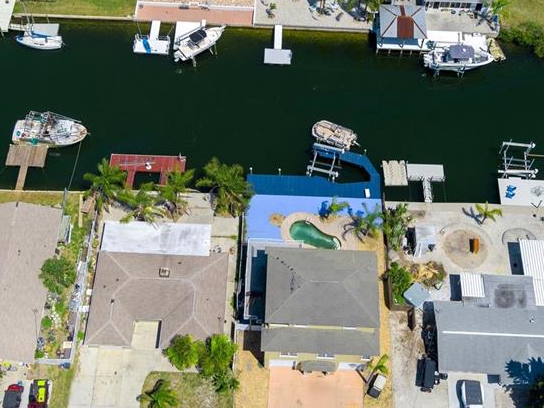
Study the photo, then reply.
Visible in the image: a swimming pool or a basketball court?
swimming pool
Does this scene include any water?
Yes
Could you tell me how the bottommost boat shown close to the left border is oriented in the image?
from side to side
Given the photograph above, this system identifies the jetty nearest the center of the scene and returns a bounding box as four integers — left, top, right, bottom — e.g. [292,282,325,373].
[247,144,382,198]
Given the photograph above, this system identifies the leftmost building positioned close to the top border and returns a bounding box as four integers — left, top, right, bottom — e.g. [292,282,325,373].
[376,5,430,54]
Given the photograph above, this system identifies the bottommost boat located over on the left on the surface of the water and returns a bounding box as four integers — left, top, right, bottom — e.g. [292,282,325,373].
[10,110,89,143]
